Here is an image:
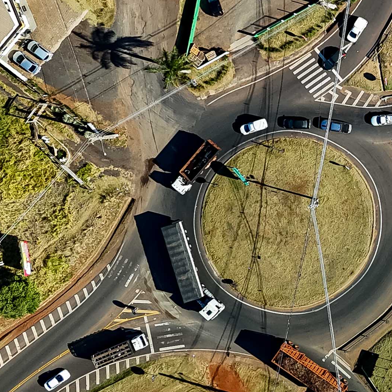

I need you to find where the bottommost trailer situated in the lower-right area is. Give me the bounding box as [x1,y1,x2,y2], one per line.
[273,342,351,392]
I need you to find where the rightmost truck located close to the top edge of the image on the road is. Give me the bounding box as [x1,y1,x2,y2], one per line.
[345,15,370,45]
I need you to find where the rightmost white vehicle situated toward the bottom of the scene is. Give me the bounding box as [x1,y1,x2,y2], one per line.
[198,278,225,321]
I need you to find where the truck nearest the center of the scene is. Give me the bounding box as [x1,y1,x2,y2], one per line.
[170,143,215,192]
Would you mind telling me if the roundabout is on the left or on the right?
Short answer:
right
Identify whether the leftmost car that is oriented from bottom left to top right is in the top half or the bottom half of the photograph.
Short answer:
bottom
